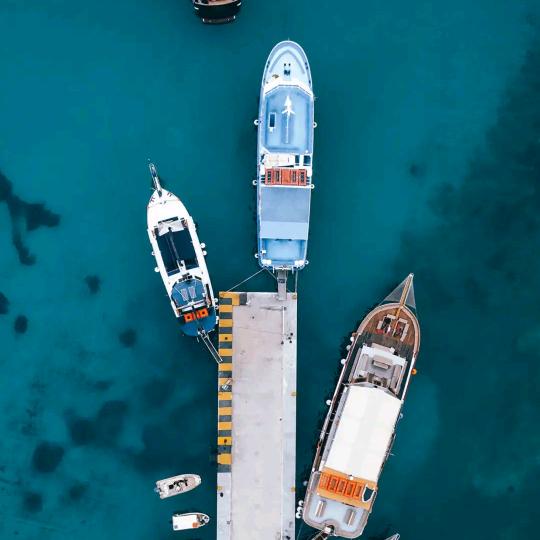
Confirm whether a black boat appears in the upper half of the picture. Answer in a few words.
Yes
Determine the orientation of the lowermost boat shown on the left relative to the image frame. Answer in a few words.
from left to right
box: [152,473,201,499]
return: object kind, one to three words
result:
boat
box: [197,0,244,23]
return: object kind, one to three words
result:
boat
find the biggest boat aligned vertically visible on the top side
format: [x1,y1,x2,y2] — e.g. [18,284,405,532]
[252,36,317,300]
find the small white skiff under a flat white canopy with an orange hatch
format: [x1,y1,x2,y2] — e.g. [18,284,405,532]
[169,509,210,530]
